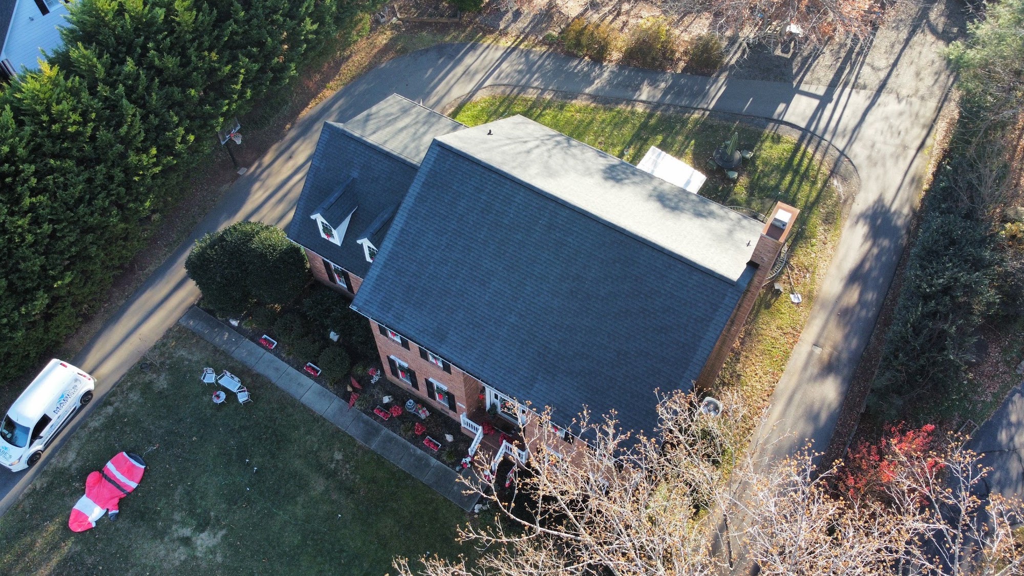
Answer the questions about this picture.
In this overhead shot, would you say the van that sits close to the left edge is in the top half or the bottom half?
bottom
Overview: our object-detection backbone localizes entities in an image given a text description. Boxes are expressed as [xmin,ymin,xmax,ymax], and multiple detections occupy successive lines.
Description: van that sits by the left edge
[0,348,102,471]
